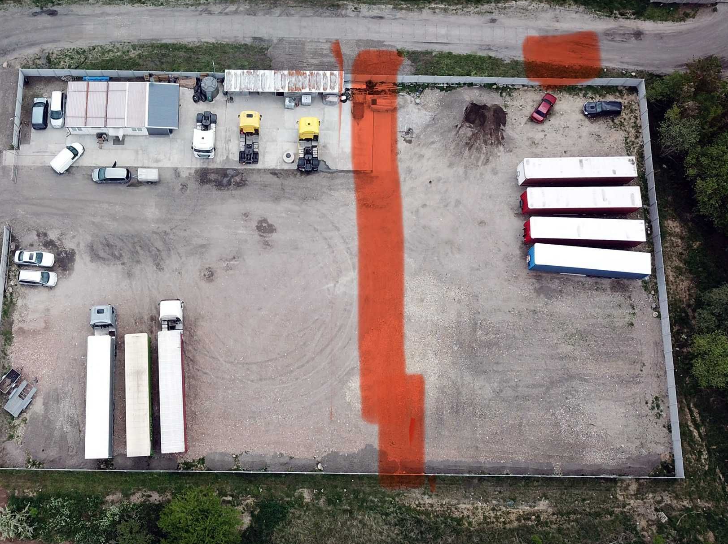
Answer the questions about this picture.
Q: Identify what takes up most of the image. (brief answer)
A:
paved ground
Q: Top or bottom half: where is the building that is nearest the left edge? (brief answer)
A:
top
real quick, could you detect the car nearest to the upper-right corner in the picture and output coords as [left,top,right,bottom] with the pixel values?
[582,99,623,118]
